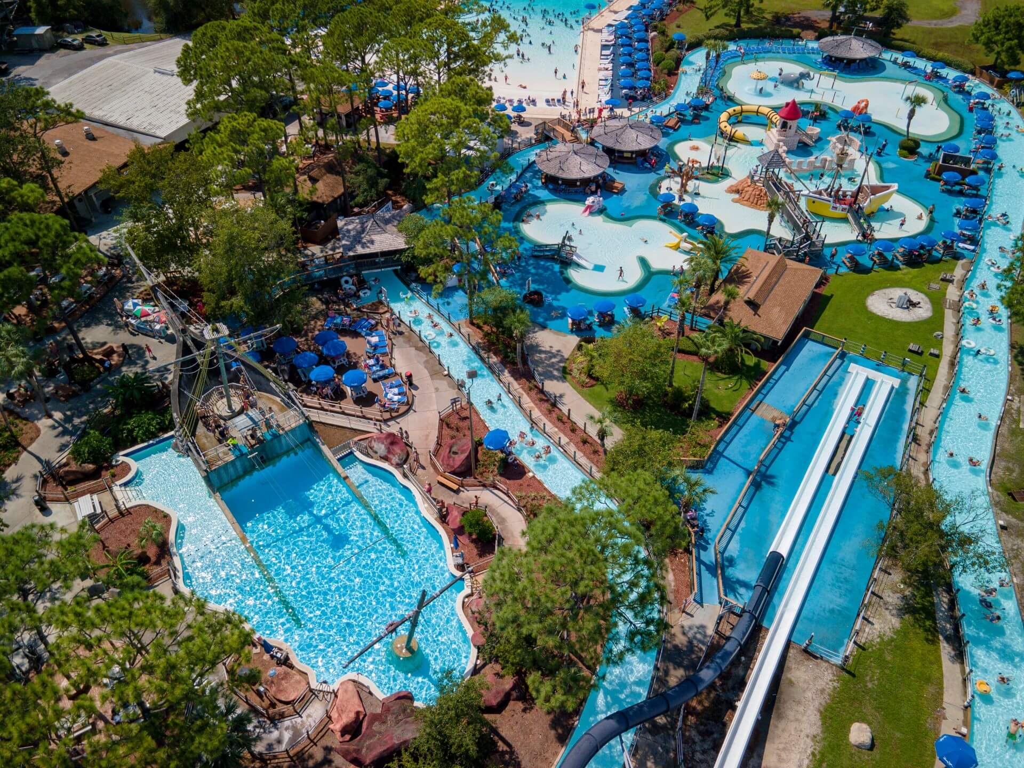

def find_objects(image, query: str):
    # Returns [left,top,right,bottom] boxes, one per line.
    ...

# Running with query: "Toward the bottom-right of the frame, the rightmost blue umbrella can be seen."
[930,729,980,768]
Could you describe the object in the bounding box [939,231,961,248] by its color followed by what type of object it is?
blue umbrella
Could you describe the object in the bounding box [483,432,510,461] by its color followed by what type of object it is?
blue umbrella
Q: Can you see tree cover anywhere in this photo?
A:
Yes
